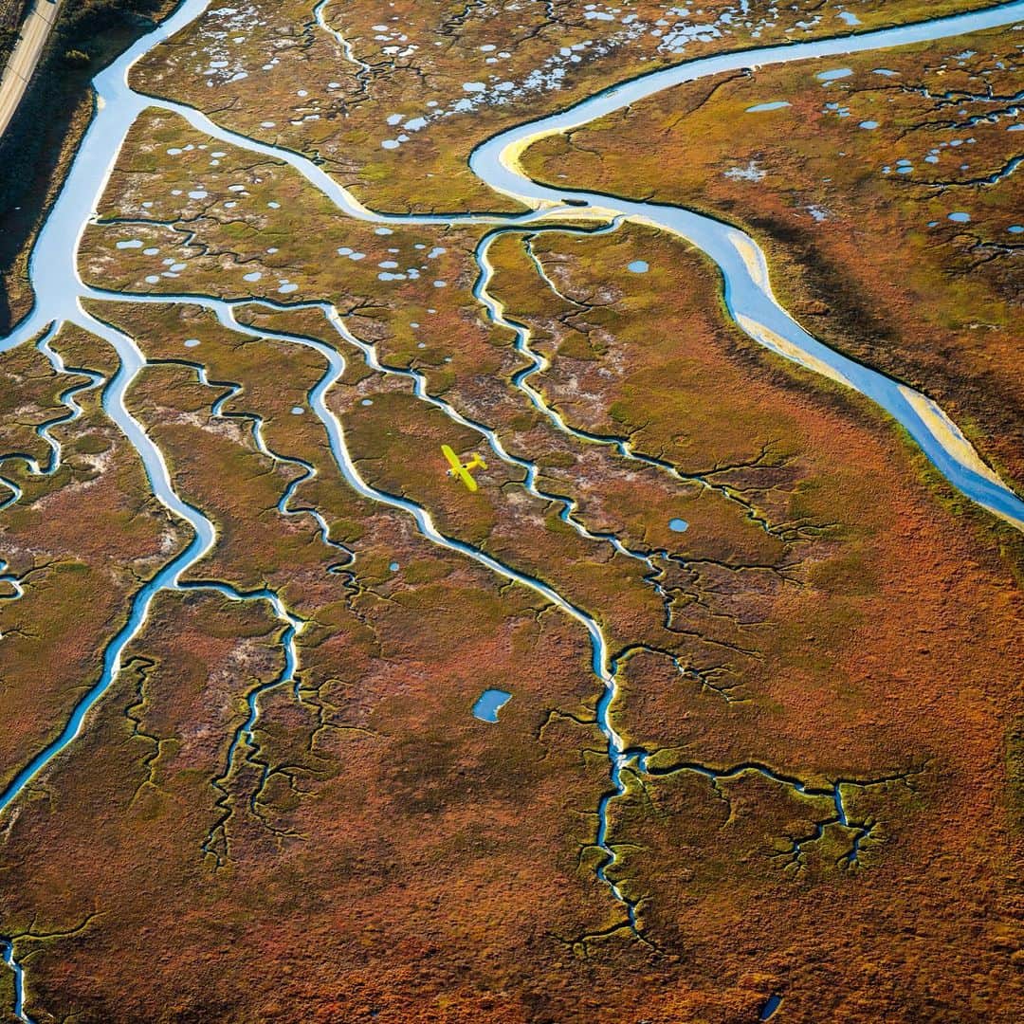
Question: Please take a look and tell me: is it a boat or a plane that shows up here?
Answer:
plane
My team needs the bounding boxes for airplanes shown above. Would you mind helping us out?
[443,446,490,489]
